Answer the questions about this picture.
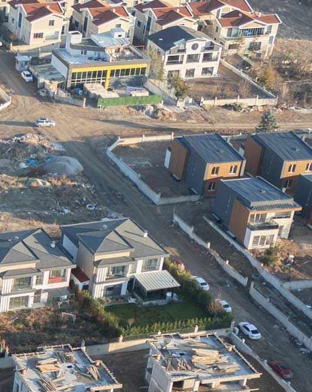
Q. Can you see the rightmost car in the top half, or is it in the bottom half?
bottom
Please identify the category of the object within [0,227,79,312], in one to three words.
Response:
house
